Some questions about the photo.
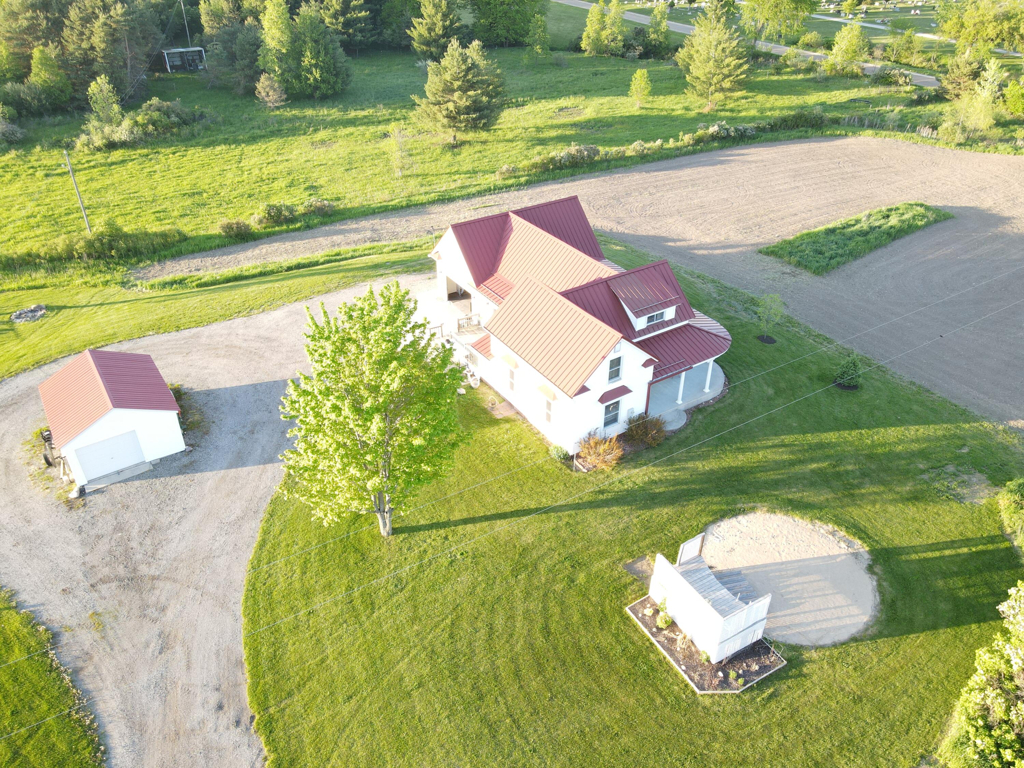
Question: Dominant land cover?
grass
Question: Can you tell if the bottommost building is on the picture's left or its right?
left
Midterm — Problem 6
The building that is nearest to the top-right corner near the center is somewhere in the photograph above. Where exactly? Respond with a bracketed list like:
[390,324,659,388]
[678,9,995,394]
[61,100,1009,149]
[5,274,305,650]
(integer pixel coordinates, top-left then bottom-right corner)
[412,195,733,459]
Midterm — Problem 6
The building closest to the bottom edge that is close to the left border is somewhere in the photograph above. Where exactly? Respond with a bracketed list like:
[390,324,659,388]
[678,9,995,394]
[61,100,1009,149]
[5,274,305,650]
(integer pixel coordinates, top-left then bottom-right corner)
[37,348,185,493]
